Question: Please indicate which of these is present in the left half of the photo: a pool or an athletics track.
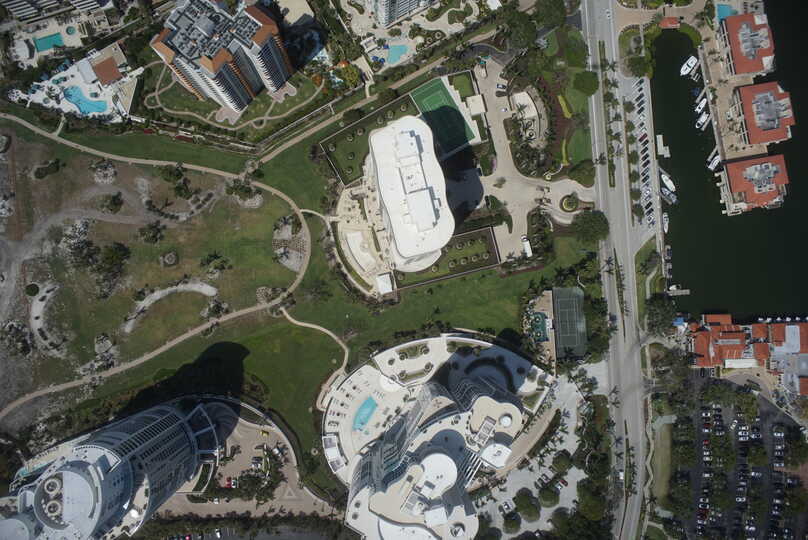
pool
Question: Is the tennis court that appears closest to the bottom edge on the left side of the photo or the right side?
right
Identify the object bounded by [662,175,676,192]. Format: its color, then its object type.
white boat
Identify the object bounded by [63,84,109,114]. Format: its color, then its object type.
blue swimming pool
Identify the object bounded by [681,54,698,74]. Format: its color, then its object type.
white boat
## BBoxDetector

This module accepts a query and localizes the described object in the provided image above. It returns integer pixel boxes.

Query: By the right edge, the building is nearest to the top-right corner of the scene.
[716,13,775,78]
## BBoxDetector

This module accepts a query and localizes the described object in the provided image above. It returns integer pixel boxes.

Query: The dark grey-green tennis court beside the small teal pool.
[555,287,587,359]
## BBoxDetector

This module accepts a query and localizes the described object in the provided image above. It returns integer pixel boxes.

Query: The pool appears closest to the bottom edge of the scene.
[14,456,56,483]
